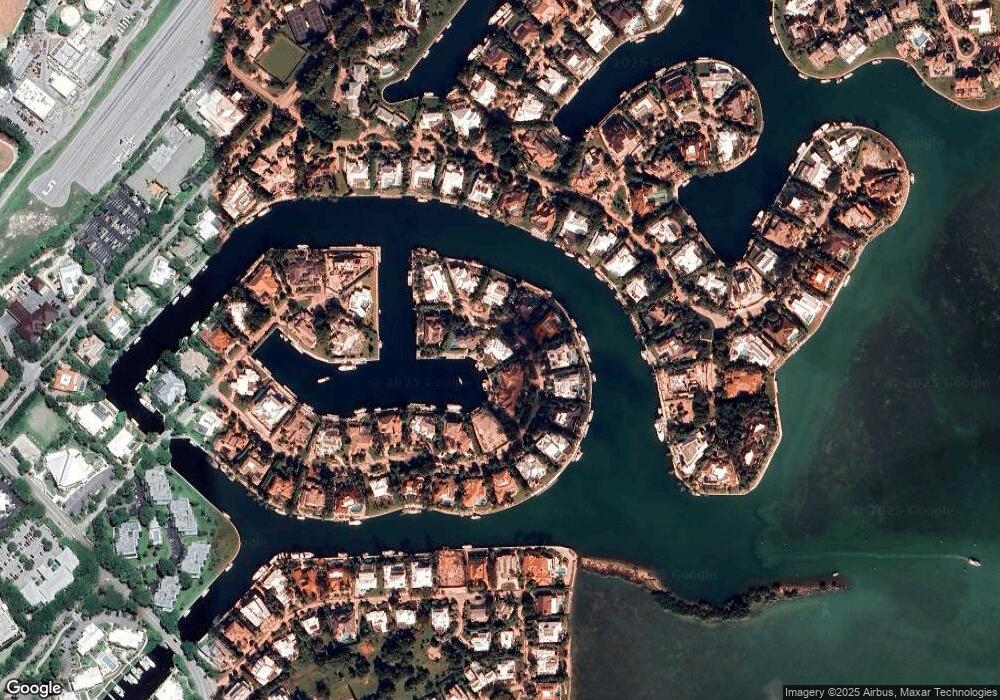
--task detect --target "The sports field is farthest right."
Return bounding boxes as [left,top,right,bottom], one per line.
[255,33,306,83]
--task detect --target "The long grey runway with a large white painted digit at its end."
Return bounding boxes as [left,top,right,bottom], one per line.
[28,0,225,206]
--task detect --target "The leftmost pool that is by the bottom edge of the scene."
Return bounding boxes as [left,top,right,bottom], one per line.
[99,651,121,674]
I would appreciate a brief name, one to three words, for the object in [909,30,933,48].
swimming pool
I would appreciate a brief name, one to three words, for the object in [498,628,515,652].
house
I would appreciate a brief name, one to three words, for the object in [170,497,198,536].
building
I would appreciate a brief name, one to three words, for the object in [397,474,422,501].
house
